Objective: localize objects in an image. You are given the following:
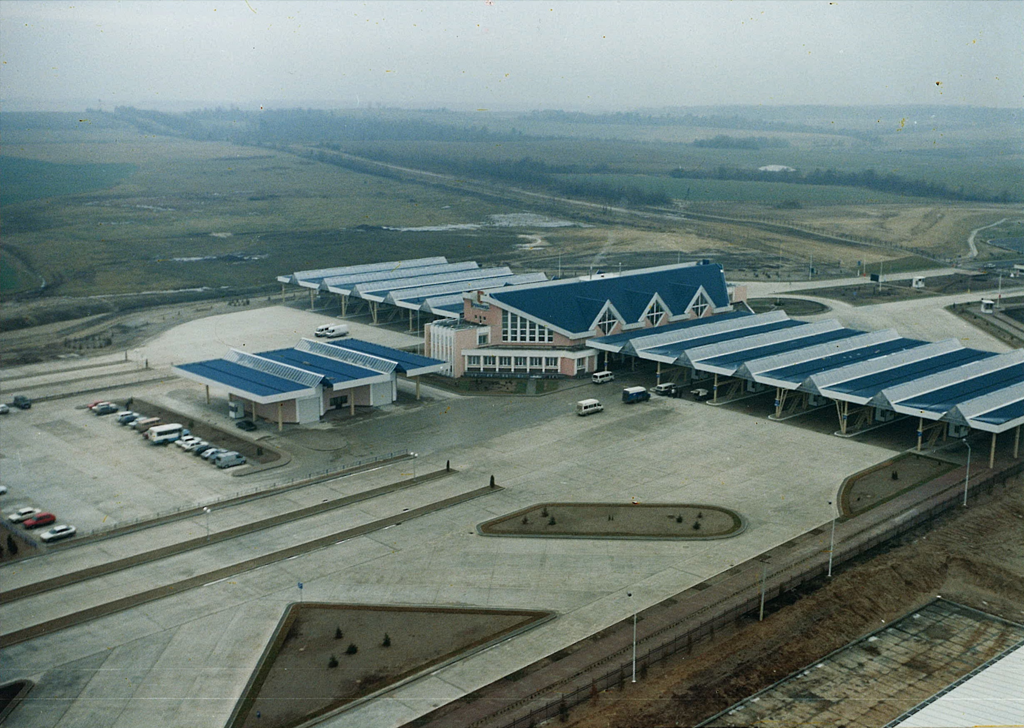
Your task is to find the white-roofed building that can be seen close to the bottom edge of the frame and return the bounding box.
[870,629,1024,728]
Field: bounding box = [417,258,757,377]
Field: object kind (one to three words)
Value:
building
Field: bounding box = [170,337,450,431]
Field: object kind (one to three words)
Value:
building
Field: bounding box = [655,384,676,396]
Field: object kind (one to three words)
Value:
vehicle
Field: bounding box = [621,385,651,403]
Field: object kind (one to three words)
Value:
vehicle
